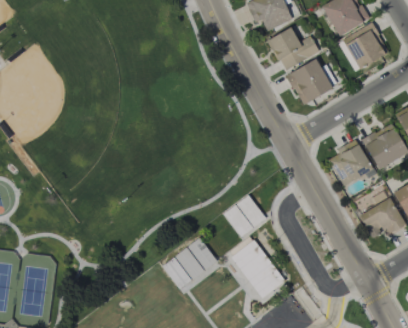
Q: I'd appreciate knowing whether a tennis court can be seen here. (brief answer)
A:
Yes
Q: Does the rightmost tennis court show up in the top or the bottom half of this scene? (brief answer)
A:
bottom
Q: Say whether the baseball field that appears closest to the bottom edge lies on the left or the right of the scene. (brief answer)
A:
left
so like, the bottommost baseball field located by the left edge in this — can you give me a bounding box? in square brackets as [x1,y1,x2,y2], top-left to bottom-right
[0,18,120,204]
